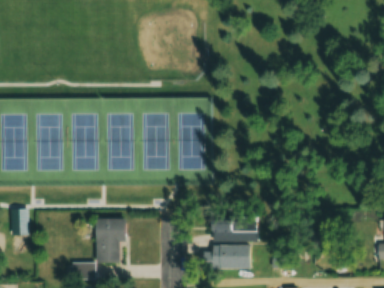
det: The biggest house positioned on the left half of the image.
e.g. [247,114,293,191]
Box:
[96,219,126,264]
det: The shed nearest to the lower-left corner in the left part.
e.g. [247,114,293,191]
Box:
[10,210,29,236]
